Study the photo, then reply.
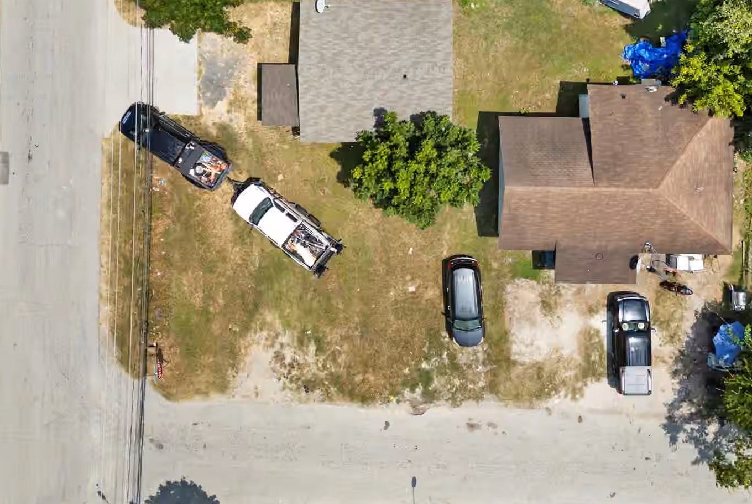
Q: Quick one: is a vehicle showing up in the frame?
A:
Yes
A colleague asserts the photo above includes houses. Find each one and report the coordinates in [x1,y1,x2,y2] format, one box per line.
[497,74,734,284]
[258,0,456,142]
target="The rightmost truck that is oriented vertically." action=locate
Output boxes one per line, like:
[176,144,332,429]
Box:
[608,289,656,397]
